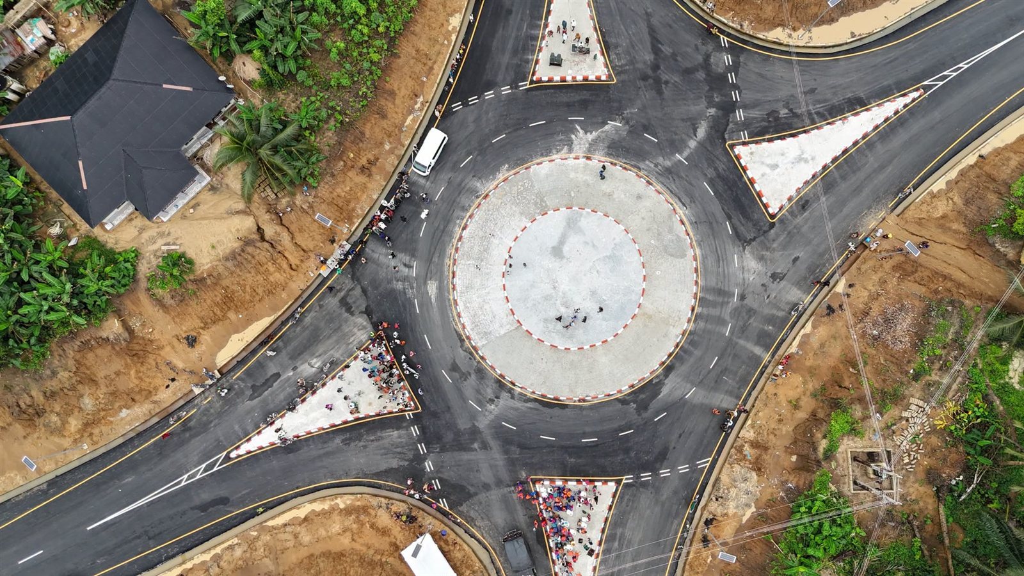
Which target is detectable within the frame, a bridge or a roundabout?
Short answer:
roundabout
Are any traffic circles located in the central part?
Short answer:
Yes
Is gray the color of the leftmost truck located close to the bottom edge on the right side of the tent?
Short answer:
Yes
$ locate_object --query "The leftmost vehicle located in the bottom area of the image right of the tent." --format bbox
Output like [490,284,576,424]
[503,526,537,576]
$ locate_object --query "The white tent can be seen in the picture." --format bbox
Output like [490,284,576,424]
[401,527,459,576]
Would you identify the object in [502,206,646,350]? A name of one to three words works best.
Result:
roundabout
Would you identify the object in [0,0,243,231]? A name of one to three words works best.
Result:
house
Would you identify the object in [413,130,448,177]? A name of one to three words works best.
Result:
vehicle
